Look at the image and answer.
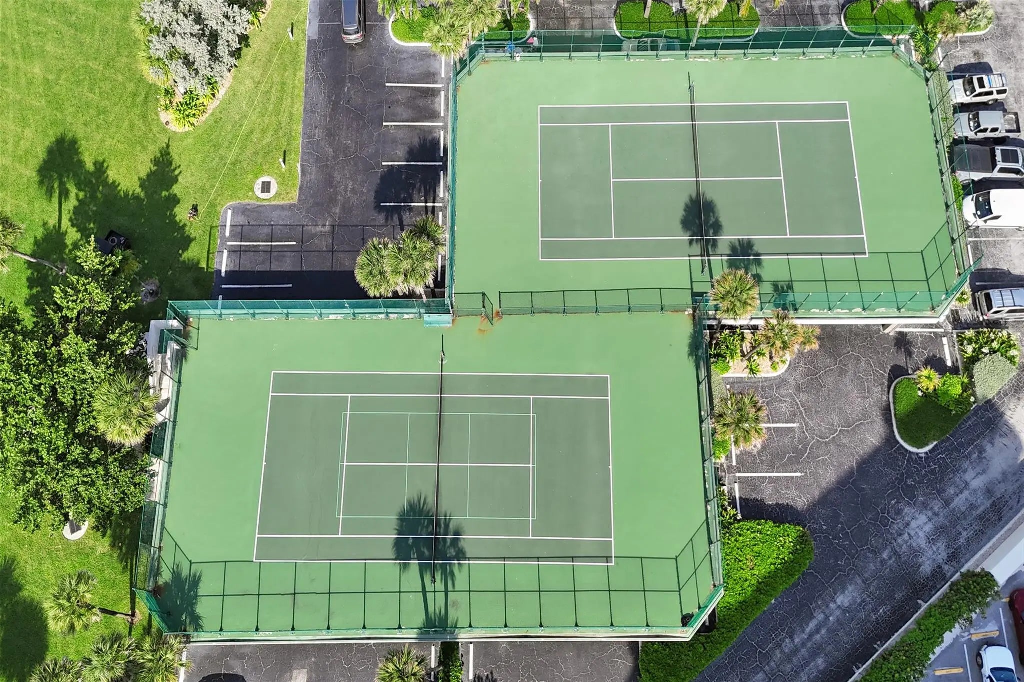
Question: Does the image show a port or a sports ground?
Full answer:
This image shows a sports ground.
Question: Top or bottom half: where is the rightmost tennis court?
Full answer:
The top half of the photo is where the rightmost tennis court is.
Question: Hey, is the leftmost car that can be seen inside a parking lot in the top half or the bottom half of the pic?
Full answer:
It is in the top half that the leftmost car that can be seen inside a parking lot appears.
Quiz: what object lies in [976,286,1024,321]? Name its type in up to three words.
car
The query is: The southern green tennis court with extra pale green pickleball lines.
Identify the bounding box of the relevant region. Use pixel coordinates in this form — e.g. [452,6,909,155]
[155,315,714,631]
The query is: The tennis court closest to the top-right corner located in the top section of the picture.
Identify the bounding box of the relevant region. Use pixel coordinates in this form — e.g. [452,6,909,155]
[453,52,960,316]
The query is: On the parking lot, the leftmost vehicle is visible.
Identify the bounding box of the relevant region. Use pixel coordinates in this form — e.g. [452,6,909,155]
[339,0,366,40]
